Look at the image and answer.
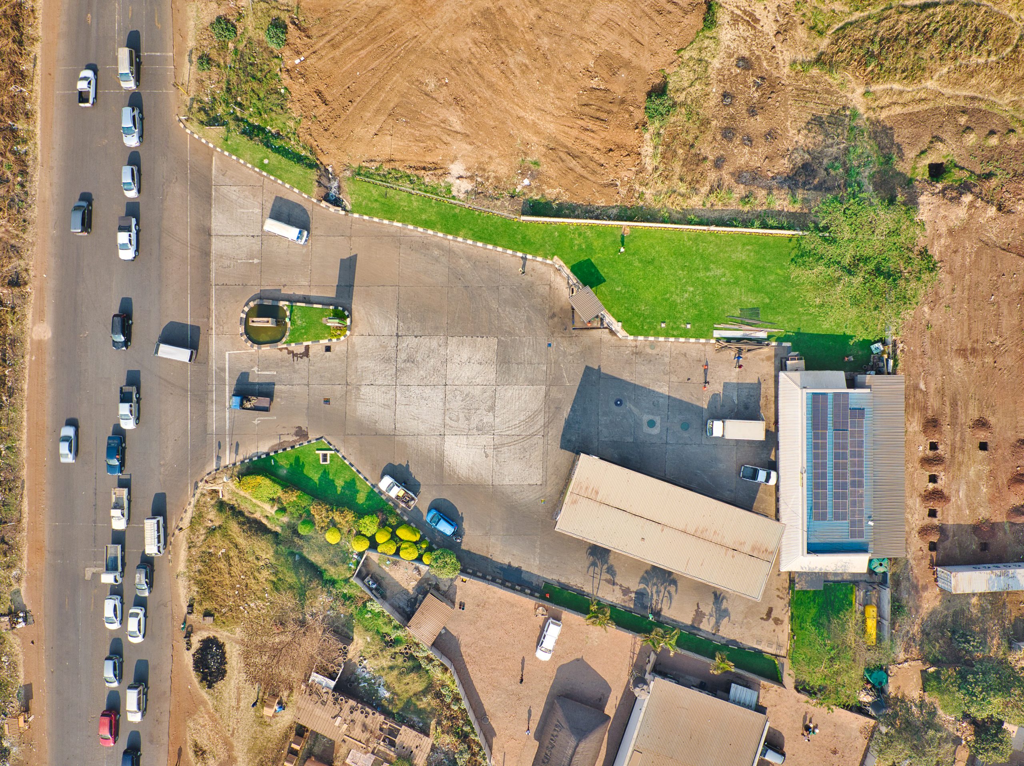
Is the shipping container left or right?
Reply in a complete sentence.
It is on the right.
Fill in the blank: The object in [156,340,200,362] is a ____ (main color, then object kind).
white vehicle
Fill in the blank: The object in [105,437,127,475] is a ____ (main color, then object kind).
blue car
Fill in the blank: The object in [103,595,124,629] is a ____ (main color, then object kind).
white car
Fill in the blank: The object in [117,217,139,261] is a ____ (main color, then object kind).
white truck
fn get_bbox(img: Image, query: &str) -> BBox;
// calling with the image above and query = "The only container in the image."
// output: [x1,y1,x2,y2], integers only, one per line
[936,561,1024,594]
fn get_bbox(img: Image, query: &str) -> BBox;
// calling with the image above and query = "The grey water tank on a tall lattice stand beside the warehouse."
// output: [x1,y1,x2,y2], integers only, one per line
[619,654,651,700]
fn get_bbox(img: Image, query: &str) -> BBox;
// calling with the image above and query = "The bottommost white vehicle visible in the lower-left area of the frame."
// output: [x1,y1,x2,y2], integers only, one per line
[125,683,147,722]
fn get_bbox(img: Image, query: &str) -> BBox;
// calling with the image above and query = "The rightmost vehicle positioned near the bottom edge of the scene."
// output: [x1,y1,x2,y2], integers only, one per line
[758,740,785,762]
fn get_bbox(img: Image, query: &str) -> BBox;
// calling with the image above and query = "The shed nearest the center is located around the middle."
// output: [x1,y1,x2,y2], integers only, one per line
[569,286,604,323]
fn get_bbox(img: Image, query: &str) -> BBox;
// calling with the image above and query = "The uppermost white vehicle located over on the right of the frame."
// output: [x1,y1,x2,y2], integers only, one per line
[705,414,769,440]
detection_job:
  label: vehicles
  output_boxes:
[71,200,94,236]
[379,474,419,510]
[76,69,98,109]
[125,683,147,722]
[705,414,769,440]
[110,488,131,529]
[127,605,147,642]
[121,165,141,198]
[117,217,139,261]
[230,391,274,410]
[758,740,785,762]
[134,562,154,596]
[262,217,309,244]
[105,437,127,475]
[122,106,144,146]
[59,426,81,464]
[537,617,563,660]
[103,595,124,629]
[117,45,140,90]
[101,543,124,586]
[425,508,460,538]
[736,465,778,486]
[103,654,124,687]
[142,516,165,556]
[99,710,120,746]
[121,747,142,766]
[111,314,133,349]
[118,386,140,428]
[156,340,200,362]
